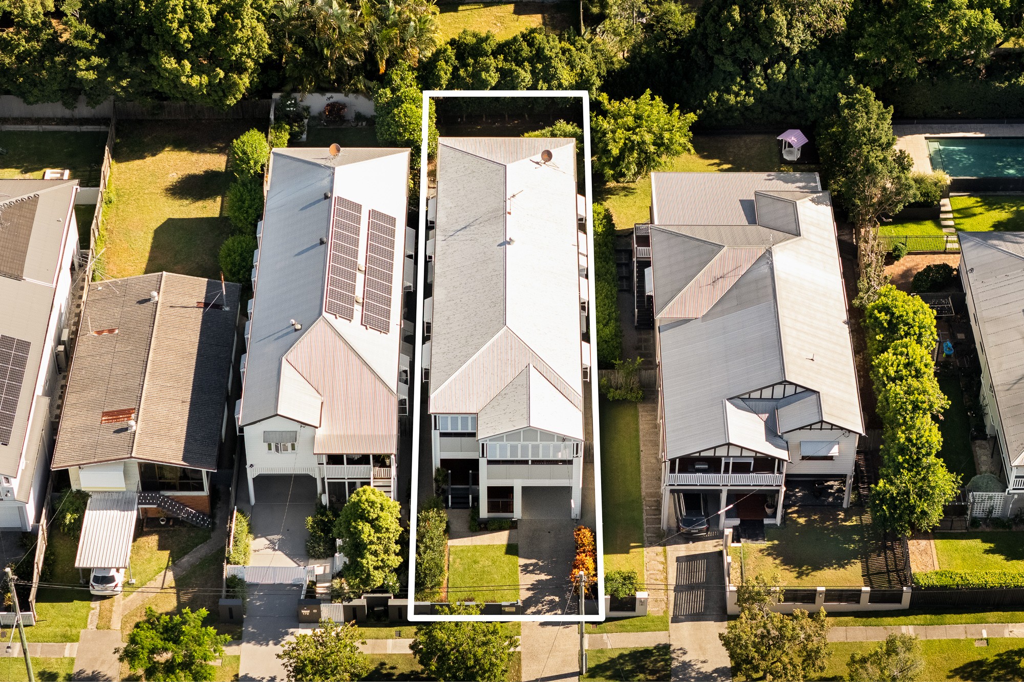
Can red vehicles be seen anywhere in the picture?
No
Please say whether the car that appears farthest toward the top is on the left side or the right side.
right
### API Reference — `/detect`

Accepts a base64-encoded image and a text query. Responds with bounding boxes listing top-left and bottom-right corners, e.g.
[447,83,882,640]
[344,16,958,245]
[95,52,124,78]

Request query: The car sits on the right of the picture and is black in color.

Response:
[674,497,711,532]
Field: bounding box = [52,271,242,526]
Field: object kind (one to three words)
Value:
house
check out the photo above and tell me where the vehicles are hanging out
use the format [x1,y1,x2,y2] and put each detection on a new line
[87,570,125,599]
[674,497,711,532]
